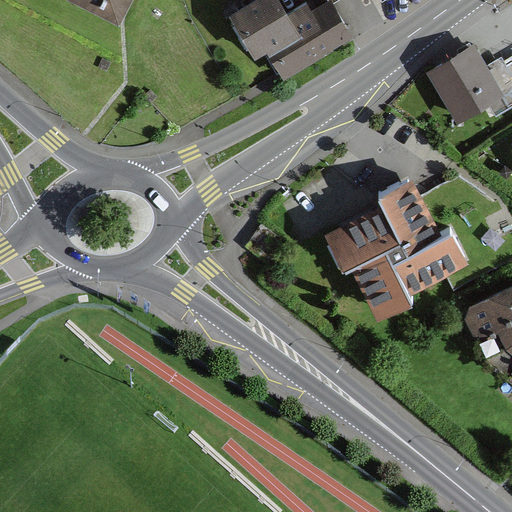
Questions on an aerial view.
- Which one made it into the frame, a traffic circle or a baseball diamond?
traffic circle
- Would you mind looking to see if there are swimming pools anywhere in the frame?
No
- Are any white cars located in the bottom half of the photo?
No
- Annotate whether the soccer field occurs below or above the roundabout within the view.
below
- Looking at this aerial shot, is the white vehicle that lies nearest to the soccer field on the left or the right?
left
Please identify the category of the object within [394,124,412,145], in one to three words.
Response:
car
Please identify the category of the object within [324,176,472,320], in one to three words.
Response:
house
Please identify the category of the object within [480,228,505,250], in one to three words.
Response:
gazebo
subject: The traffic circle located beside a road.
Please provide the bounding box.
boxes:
[55,178,166,268]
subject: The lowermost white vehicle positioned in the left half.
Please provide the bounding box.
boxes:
[148,188,169,212]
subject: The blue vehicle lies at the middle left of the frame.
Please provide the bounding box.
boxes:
[68,248,89,264]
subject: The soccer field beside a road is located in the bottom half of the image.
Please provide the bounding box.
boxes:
[0,307,414,512]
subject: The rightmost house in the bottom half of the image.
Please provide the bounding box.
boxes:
[462,285,512,358]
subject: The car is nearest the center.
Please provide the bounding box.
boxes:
[296,191,314,212]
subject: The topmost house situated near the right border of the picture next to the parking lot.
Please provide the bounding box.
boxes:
[426,45,504,124]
